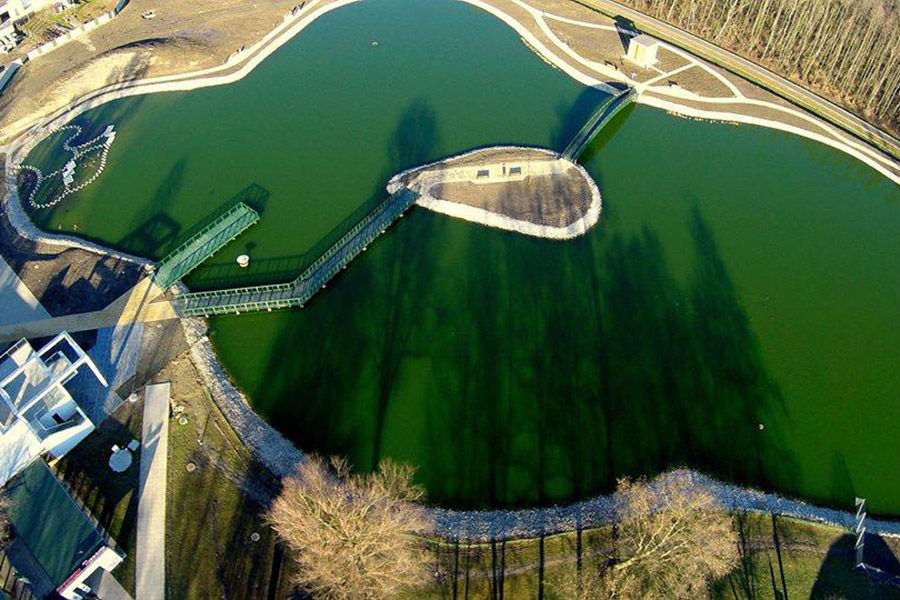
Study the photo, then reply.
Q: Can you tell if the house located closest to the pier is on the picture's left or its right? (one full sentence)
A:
The house located closest to the pier appears in the left half of the scene.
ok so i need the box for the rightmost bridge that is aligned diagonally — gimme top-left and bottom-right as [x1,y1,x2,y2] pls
[560,85,643,170]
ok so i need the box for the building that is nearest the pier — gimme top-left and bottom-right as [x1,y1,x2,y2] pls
[0,333,109,526]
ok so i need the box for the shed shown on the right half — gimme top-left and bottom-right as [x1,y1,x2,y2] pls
[621,32,661,73]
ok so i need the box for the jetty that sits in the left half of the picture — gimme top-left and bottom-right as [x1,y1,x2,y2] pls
[152,202,258,295]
